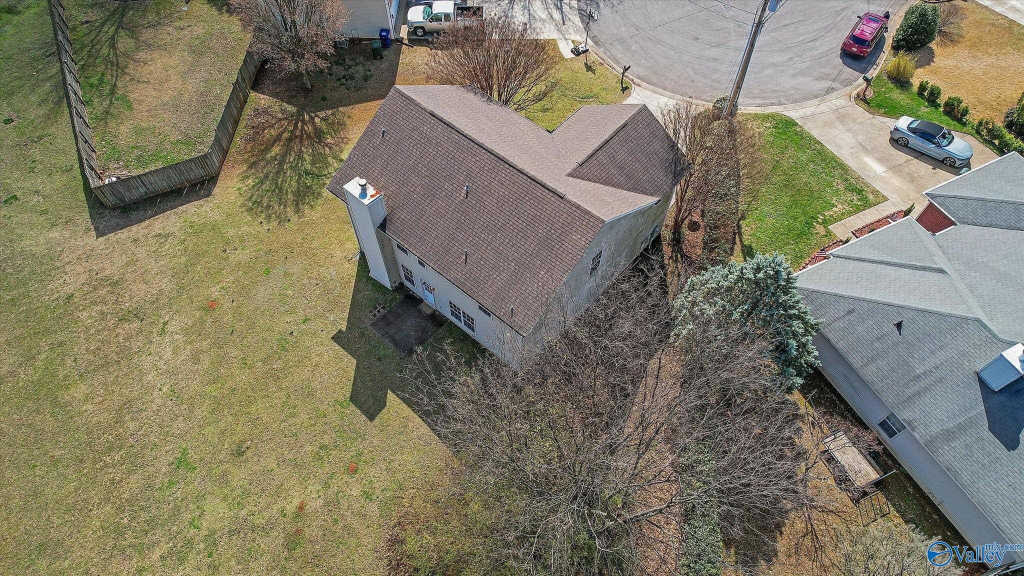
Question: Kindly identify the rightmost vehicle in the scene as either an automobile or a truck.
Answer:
automobile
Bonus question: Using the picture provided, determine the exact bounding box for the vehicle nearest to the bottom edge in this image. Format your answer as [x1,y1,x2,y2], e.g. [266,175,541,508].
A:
[893,112,976,164]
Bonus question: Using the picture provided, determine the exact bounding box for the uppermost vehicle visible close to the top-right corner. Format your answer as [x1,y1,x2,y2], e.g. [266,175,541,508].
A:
[844,13,892,59]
